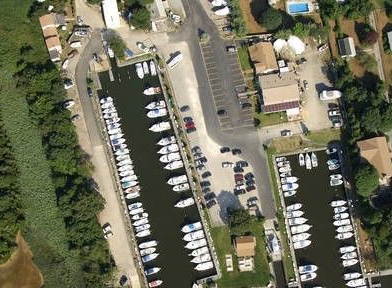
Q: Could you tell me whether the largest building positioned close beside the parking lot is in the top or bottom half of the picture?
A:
top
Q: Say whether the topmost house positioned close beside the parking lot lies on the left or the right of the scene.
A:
right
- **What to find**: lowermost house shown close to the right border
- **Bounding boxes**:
[358,137,392,178]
